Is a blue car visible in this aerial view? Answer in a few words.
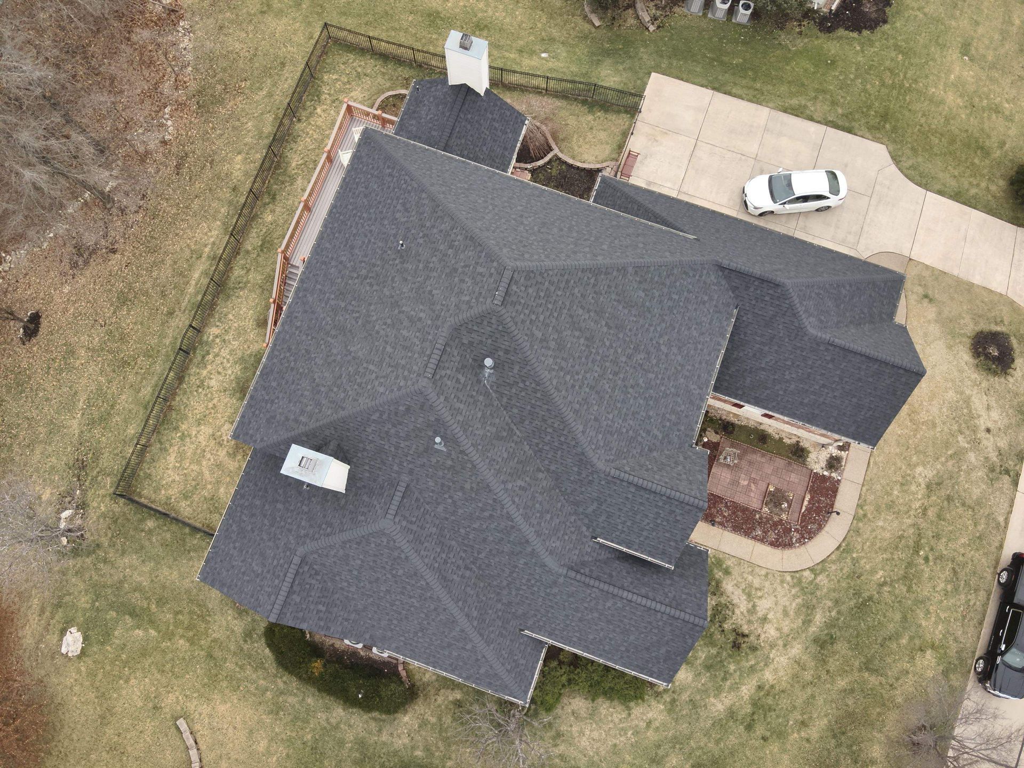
No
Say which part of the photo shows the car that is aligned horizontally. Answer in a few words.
top right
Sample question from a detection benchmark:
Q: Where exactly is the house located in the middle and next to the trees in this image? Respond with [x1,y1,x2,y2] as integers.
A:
[192,27,925,708]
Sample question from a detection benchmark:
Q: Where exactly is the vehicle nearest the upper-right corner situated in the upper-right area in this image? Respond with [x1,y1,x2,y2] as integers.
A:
[741,167,846,217]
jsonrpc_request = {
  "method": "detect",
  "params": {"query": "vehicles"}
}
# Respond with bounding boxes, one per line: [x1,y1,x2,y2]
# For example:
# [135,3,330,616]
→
[971,550,1024,709]
[741,167,846,217]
